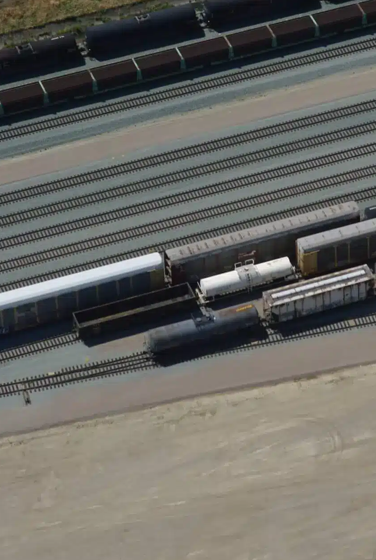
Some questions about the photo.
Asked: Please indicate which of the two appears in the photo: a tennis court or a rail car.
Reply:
rail car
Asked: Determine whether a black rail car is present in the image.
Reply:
Yes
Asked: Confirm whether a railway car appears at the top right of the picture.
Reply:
Yes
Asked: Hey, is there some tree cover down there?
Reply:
No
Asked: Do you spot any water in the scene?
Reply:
No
